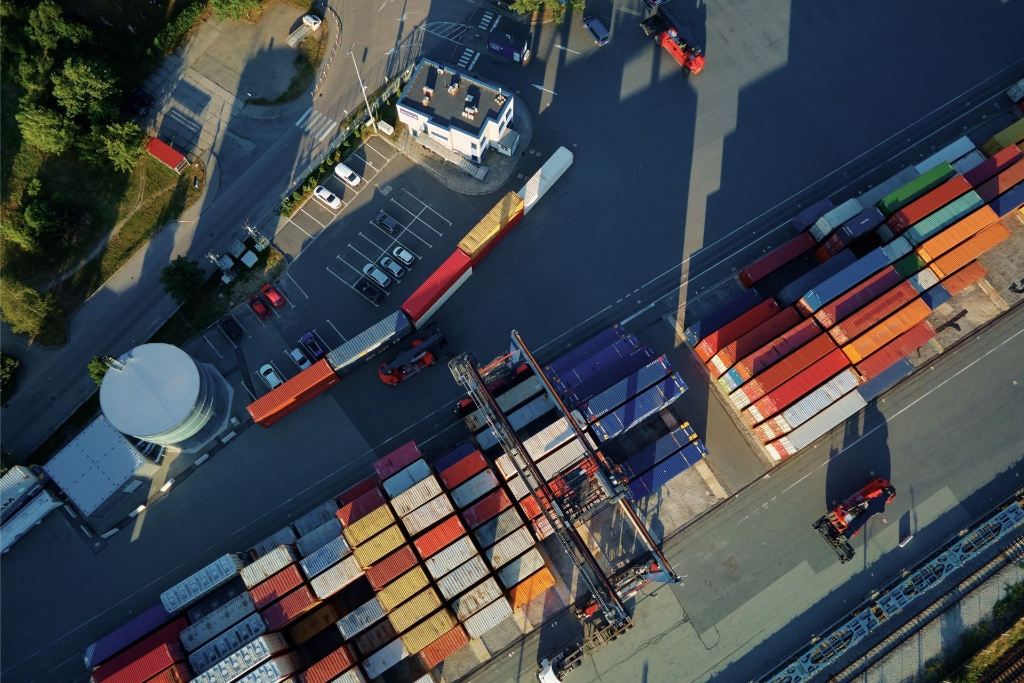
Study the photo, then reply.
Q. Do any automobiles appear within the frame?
Yes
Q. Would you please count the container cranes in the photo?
1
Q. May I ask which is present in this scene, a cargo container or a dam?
cargo container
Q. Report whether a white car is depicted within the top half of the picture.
Yes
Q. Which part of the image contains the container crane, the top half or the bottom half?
bottom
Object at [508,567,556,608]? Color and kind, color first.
orange shipping container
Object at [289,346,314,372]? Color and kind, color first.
blue car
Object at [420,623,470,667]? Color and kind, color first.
red shipping container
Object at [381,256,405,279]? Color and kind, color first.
blue car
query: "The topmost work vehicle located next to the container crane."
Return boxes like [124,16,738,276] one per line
[380,317,462,388]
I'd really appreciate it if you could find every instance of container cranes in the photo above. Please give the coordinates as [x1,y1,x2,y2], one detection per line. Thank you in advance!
[441,328,689,626]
